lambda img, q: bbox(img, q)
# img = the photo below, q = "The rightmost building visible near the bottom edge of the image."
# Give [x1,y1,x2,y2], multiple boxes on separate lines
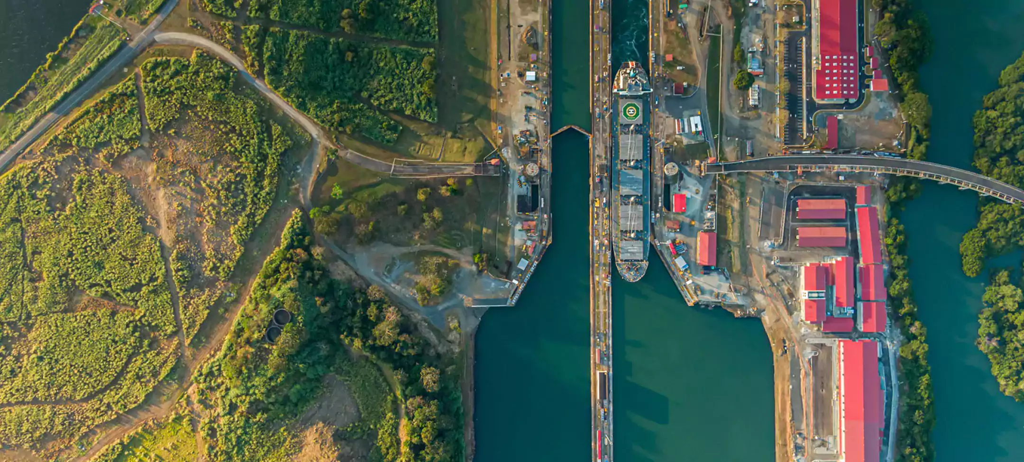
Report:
[837,340,885,462]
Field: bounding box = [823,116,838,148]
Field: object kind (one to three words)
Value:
shed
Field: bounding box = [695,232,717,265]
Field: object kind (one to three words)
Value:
building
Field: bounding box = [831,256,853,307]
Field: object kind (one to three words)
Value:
building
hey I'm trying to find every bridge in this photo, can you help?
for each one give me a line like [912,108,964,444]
[700,156,1024,213]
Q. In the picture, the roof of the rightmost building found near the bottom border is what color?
red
